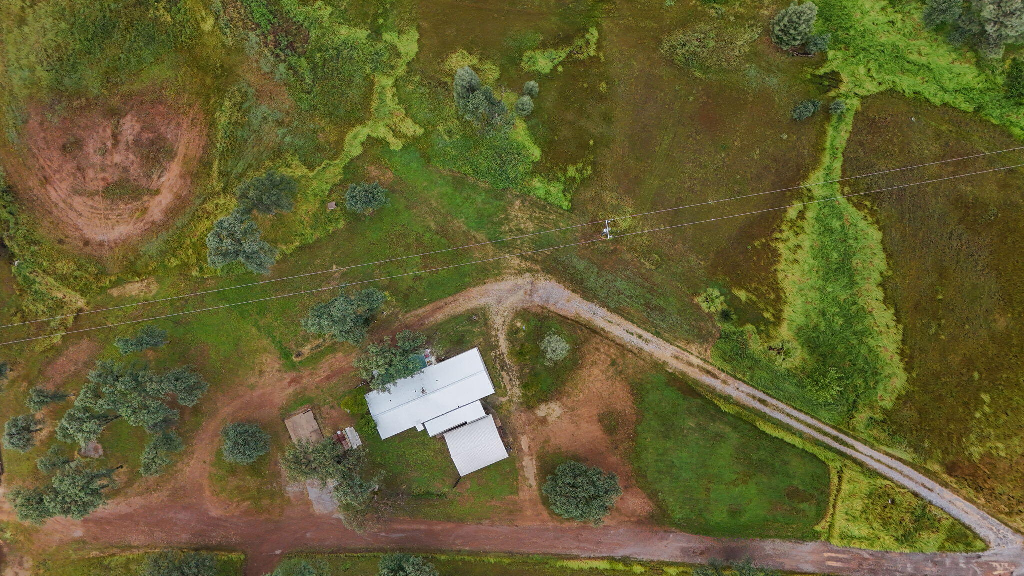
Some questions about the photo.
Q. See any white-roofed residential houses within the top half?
No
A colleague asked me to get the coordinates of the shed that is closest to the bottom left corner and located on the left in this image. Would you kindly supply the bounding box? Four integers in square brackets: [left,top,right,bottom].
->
[332,427,362,451]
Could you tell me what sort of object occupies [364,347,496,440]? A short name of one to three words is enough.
house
